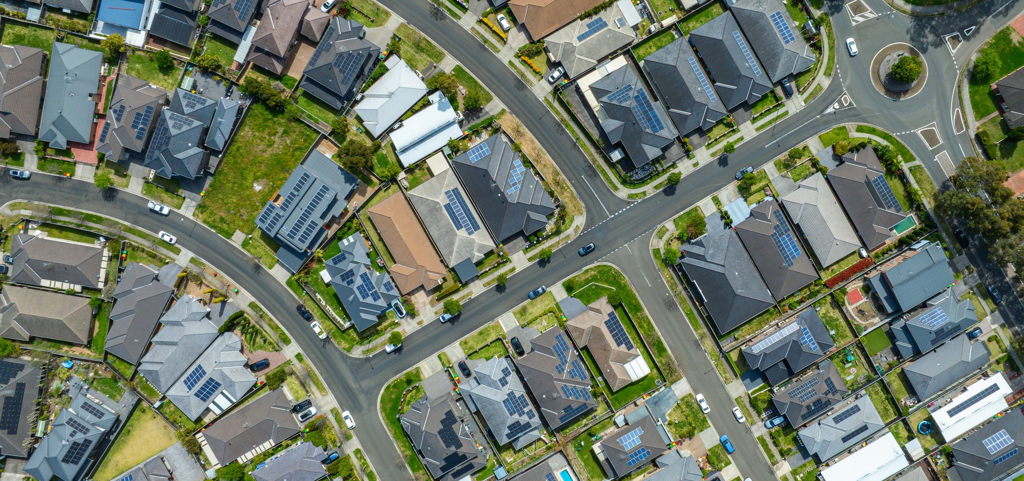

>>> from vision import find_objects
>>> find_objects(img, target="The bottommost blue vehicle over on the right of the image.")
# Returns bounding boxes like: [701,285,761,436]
[719,434,734,456]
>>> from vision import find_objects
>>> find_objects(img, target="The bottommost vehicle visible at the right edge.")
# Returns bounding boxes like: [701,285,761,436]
[965,325,986,339]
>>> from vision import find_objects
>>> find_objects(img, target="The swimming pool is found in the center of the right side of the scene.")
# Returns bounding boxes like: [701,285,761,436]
[893,214,918,236]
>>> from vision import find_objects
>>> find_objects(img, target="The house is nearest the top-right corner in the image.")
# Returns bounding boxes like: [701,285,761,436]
[992,67,1024,123]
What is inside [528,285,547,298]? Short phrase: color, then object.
blue vehicle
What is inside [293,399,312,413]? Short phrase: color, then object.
black car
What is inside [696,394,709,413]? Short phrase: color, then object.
white vehicle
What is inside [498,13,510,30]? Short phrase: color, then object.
white vehicle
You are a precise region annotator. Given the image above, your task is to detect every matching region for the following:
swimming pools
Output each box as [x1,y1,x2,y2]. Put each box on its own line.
[559,468,573,481]
[893,214,918,236]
